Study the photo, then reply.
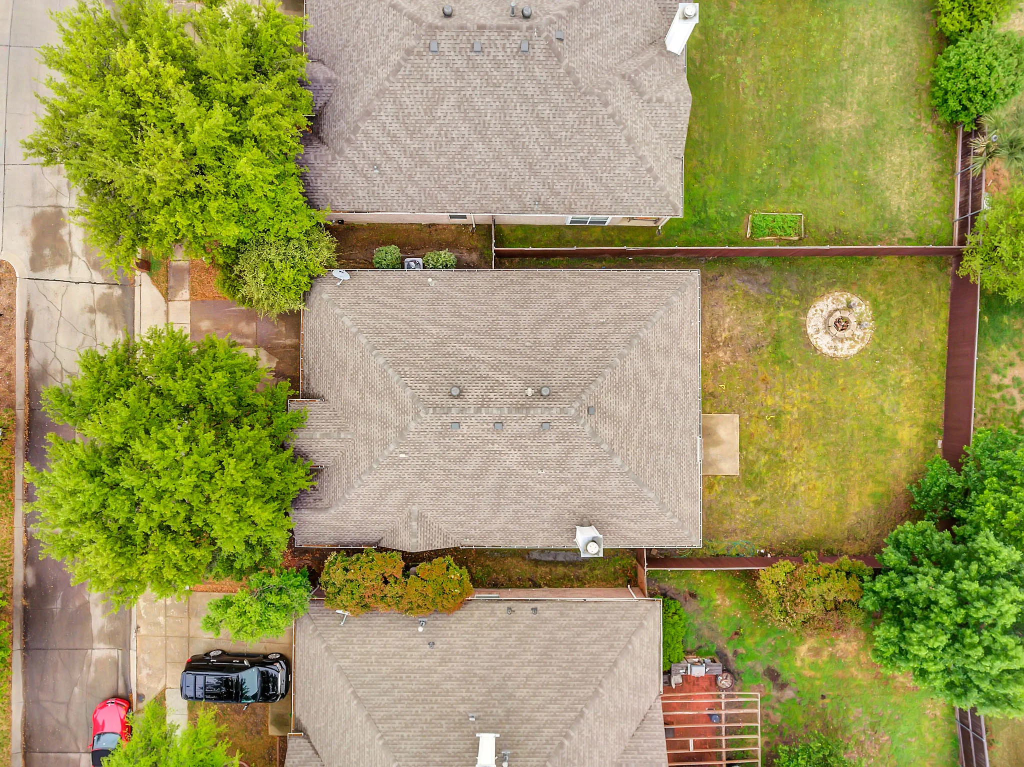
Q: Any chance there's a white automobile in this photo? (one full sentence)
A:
No, there's no white automobile here.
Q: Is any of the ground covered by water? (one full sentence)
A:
No, no water is visible.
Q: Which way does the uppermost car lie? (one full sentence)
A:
I'd say the uppermost car is aligned from left to right in the picture.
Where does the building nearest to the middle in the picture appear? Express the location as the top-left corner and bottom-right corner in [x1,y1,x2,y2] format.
[280,269,703,559]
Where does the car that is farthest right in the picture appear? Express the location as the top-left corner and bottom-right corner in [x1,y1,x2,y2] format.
[183,652,292,708]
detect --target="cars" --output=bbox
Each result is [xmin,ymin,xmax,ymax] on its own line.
[89,693,139,767]
[183,652,292,708]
